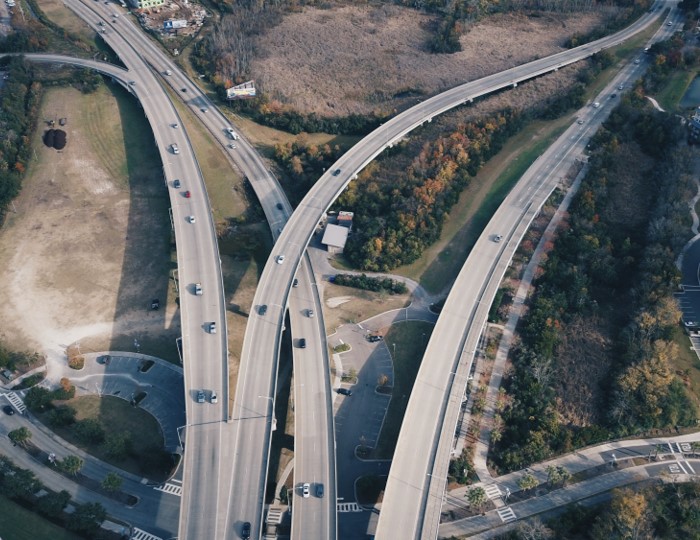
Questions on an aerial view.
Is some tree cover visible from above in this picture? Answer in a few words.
Yes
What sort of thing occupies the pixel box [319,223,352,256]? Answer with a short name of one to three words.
shed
